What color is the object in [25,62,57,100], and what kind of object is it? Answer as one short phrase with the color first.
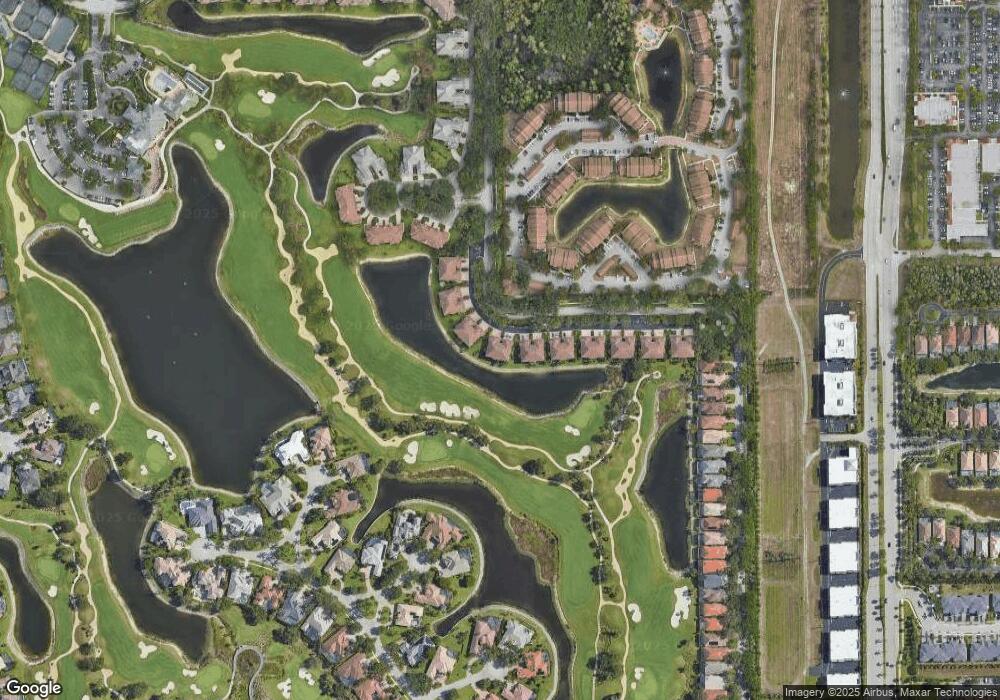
gray tennis court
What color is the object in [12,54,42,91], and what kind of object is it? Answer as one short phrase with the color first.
gray tennis court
